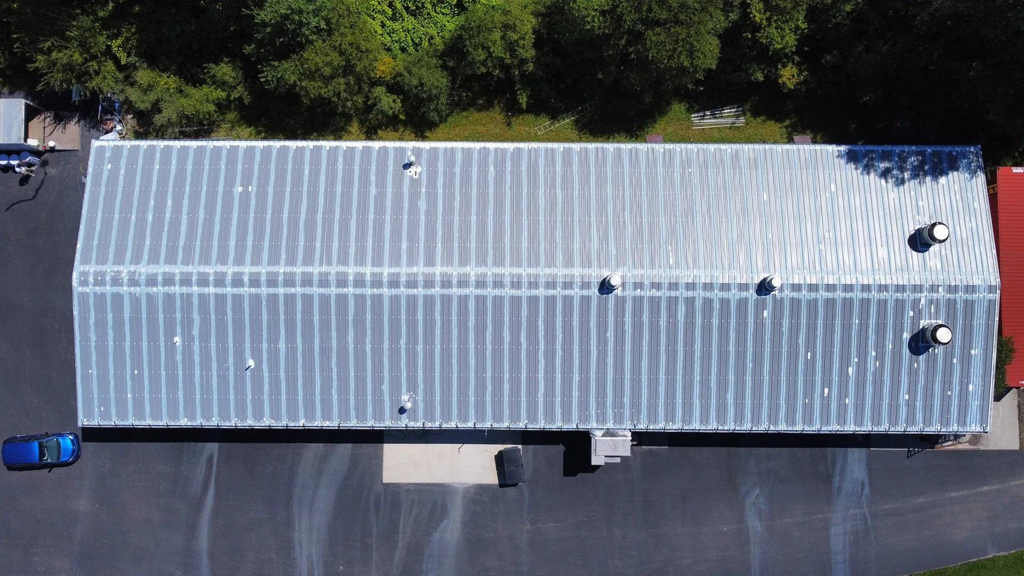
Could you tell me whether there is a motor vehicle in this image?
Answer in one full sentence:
Yes, I can see a motor vehicle in this picture.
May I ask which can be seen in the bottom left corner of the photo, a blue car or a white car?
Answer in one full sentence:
Looking in the bottom left corner of the photo, you will find a blue car.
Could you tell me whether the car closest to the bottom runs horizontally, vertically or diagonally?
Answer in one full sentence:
The car closest to the bottom is laid out horizontally.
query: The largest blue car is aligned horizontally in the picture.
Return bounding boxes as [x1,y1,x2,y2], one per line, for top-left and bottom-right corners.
[2,430,82,470]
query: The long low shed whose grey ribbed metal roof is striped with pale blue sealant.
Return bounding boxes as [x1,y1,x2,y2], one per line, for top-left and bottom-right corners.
[71,140,1001,431]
